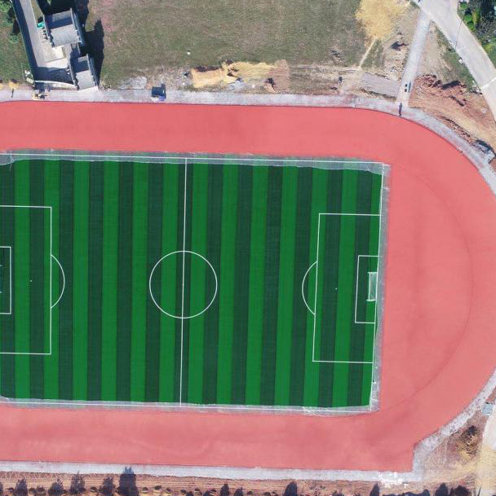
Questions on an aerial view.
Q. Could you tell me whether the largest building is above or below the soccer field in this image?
above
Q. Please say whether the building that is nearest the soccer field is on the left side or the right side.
left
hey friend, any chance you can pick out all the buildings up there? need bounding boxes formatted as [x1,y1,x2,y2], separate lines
[45,6,85,53]
[69,52,99,94]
